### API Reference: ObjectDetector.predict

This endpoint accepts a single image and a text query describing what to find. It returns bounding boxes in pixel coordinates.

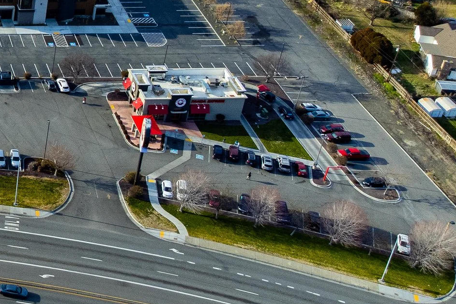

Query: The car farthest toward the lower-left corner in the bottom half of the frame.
[0,284,28,299]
